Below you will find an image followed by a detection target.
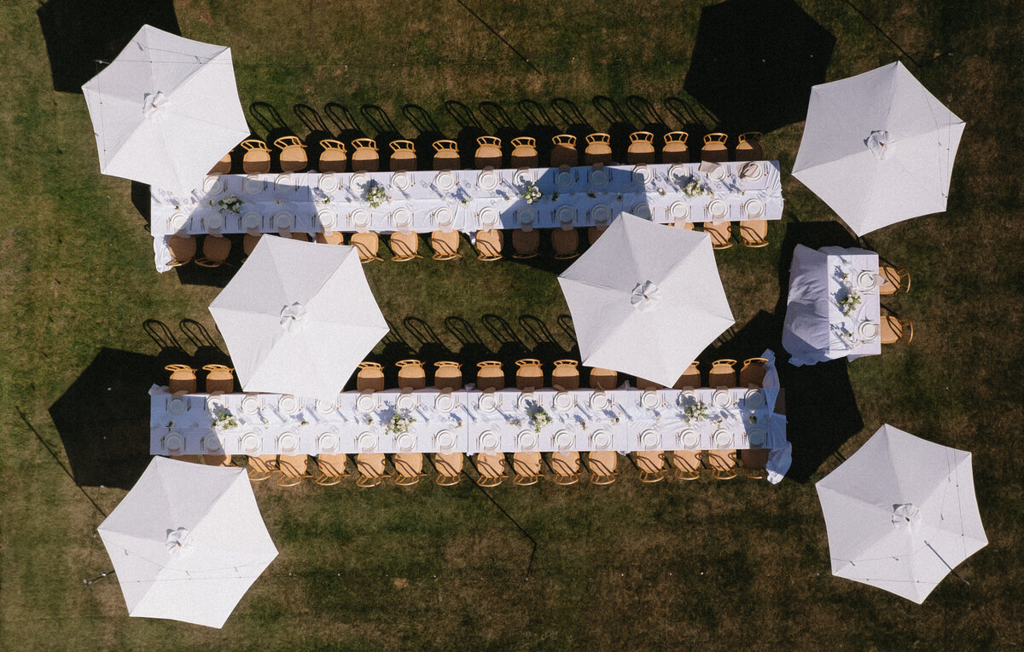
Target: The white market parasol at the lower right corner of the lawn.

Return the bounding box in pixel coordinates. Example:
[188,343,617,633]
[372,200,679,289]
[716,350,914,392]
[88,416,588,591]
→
[816,424,988,604]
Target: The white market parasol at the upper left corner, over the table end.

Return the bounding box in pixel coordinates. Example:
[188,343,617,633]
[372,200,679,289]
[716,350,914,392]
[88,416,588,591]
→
[83,24,250,195]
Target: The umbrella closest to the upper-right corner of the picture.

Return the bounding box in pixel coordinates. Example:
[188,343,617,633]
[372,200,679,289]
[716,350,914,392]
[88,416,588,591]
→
[792,61,965,236]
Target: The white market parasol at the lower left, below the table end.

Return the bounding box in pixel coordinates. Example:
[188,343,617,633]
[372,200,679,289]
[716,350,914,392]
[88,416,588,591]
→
[98,456,279,629]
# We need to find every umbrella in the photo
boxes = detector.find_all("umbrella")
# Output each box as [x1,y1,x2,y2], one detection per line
[792,61,965,236]
[816,424,988,604]
[98,456,279,629]
[209,234,390,401]
[83,24,250,195]
[558,212,735,388]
